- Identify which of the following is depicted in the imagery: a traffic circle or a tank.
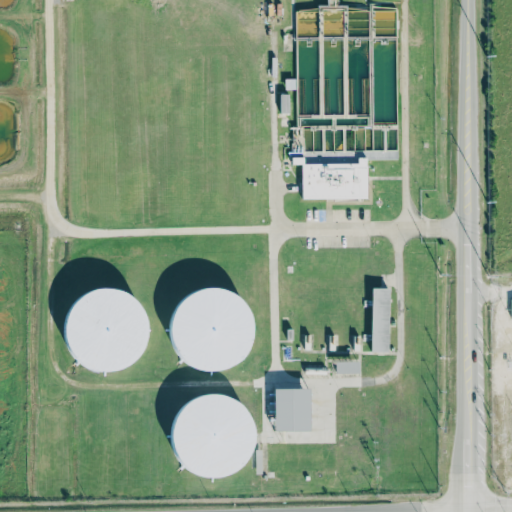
tank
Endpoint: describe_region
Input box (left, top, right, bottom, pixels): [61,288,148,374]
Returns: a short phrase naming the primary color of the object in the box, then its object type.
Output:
white storage tank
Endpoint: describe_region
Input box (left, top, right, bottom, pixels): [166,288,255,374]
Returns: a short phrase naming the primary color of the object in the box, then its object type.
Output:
white storage tank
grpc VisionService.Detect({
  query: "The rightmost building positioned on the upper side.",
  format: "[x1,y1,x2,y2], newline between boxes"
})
[292,158,368,202]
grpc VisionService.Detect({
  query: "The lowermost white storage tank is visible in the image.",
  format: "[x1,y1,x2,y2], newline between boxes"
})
[167,393,256,482]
